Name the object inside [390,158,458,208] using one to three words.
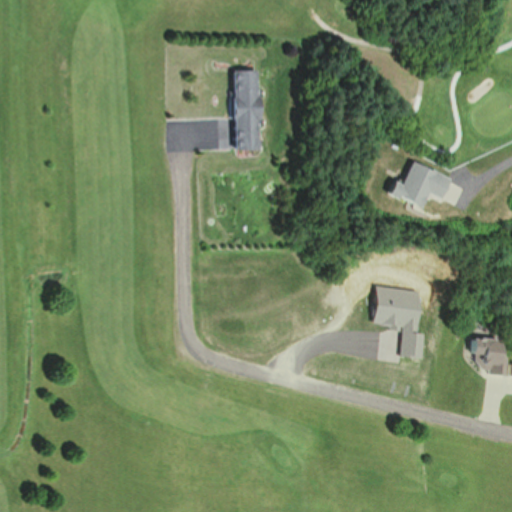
house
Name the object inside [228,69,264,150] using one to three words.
house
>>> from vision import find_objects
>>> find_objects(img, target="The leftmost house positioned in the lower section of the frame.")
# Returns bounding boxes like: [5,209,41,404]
[375,286,426,358]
